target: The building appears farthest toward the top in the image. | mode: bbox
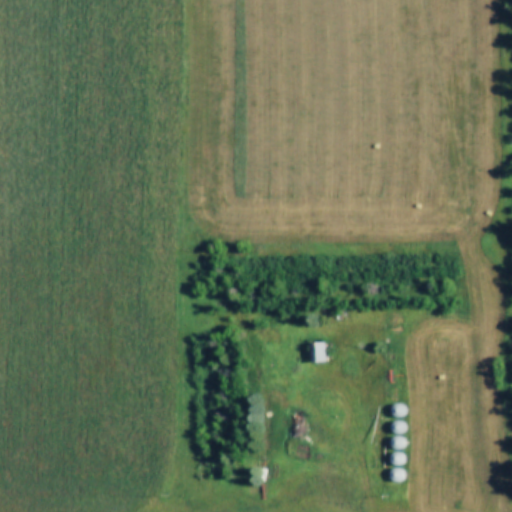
[312,342,328,363]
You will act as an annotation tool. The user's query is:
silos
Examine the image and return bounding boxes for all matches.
[390,452,406,467]
[392,420,408,435]
[390,468,406,484]
[391,436,408,451]
[391,402,408,418]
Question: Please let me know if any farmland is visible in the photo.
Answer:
Yes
